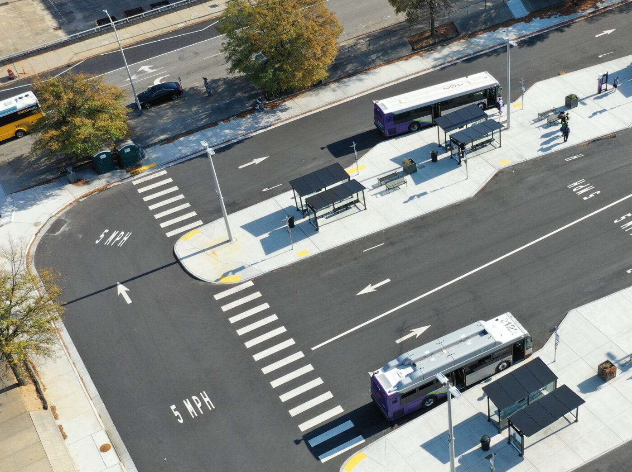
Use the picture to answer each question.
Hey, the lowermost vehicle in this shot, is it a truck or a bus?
bus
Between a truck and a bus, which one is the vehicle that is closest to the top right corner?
bus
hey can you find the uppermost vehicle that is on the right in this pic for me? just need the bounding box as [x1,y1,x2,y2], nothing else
[368,69,502,137]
